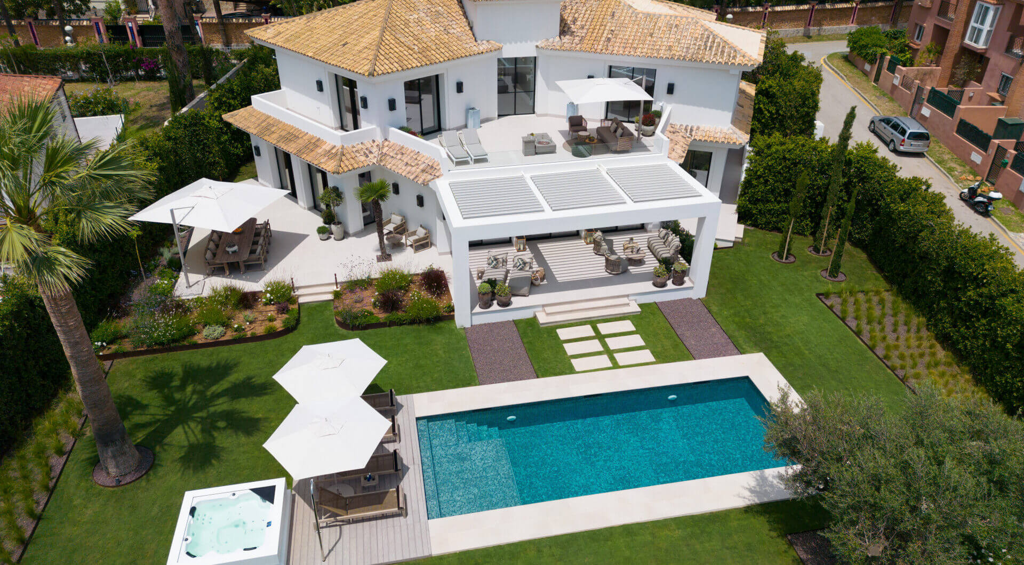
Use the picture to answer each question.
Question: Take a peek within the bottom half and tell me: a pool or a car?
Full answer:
There is a pool within the bottom half.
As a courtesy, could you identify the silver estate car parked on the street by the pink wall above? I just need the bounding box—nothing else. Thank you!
[870,110,940,153]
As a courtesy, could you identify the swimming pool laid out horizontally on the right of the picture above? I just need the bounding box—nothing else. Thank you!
[413,352,873,556]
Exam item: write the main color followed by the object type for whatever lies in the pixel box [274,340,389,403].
white umbrella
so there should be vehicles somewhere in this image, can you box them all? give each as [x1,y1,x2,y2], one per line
[870,110,940,153]
[963,170,1001,214]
